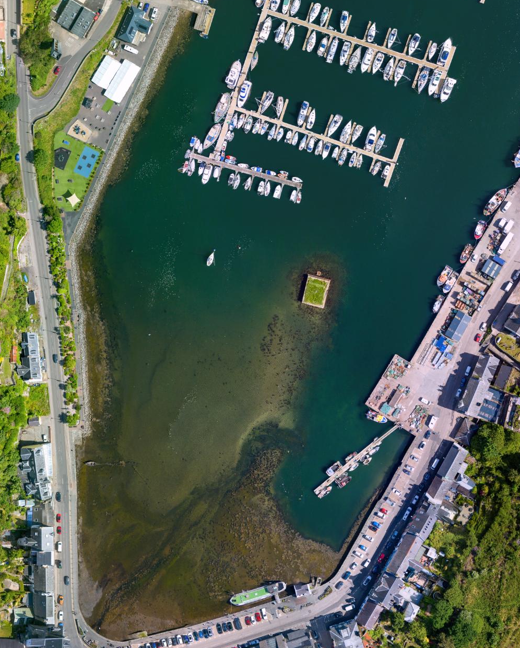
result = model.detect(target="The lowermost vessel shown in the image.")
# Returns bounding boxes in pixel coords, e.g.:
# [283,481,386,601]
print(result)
[230,581,287,603]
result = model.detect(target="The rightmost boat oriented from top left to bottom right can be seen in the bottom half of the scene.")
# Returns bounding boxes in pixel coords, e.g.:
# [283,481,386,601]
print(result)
[365,409,386,424]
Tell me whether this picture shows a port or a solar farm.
port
